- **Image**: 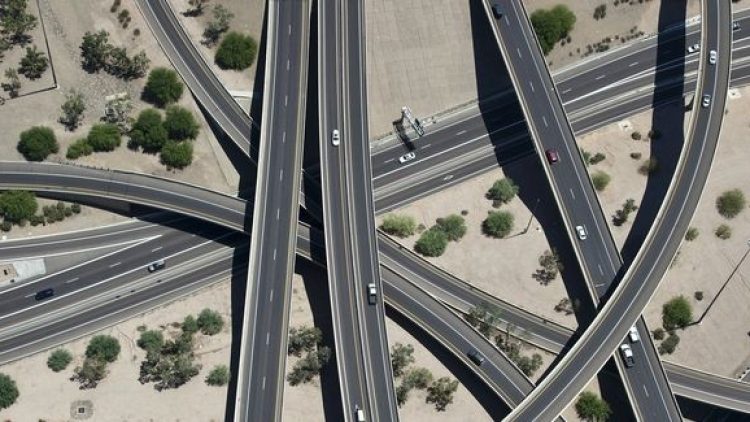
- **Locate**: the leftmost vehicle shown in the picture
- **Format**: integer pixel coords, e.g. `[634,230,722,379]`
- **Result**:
[34,288,54,301]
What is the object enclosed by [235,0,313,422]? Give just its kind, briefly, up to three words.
overpass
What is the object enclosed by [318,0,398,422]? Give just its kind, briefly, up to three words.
overpass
